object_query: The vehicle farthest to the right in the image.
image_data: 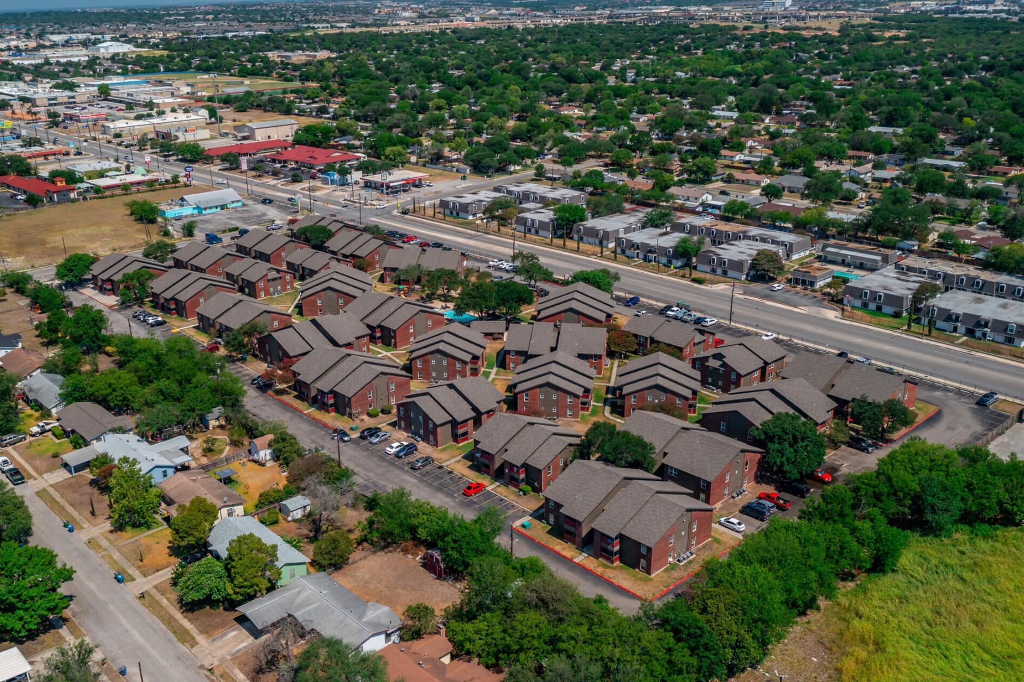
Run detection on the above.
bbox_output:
[976,392,999,407]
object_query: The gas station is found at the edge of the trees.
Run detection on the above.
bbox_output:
[352,167,441,194]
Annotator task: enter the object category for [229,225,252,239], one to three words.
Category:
vehicle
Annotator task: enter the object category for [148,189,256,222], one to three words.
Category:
building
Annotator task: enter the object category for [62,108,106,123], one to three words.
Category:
building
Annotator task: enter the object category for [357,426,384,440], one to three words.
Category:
car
